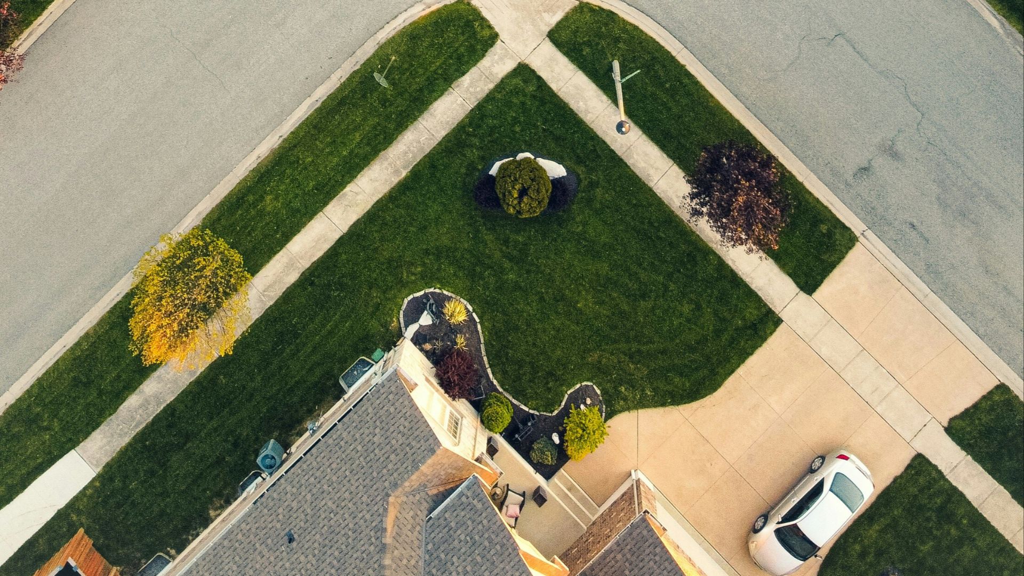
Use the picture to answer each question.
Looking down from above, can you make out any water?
No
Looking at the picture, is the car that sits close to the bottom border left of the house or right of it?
to the right of it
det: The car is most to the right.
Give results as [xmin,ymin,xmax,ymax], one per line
[746,446,876,576]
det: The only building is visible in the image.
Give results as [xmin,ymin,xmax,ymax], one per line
[170,337,743,576]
